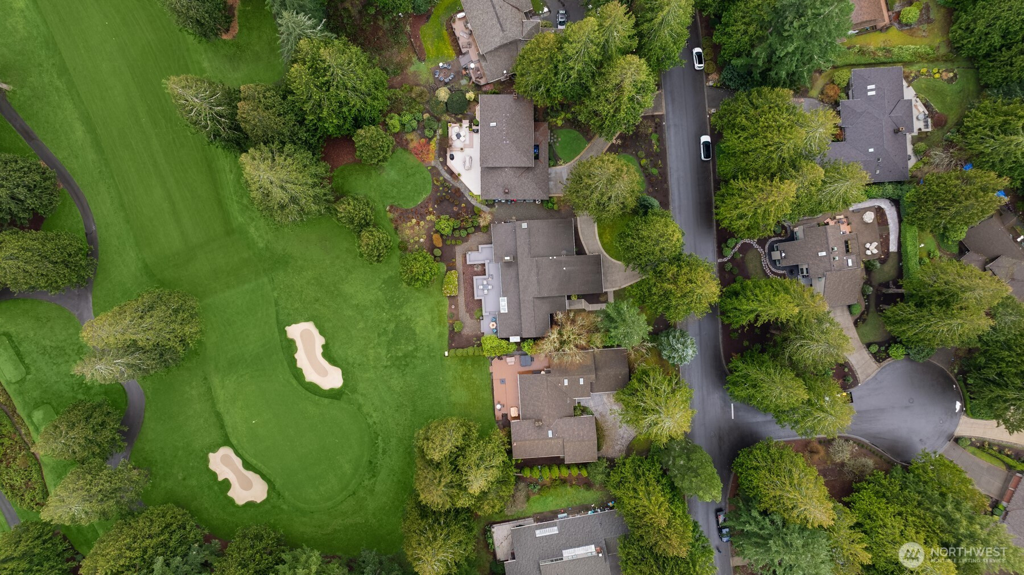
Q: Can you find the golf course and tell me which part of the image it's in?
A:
left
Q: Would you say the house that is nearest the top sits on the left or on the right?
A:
right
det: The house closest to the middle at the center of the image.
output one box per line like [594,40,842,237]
[491,218,604,338]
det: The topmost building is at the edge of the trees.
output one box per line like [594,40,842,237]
[847,0,890,36]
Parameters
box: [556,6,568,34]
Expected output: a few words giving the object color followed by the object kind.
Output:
gray vehicle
